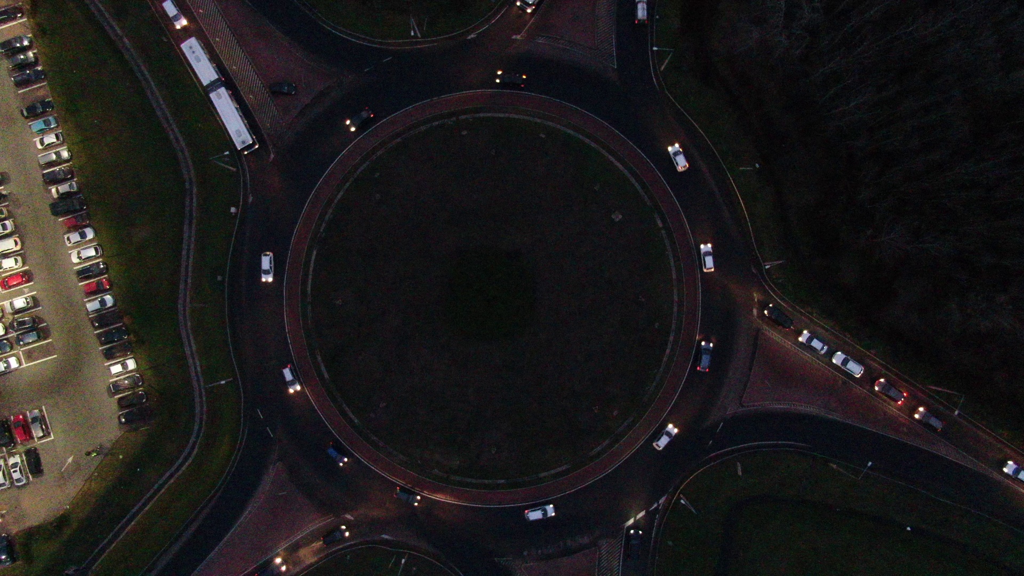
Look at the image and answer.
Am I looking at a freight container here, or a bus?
bus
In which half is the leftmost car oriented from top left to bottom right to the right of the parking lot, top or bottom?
top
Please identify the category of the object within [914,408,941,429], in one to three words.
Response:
car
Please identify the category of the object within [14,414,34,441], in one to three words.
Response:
car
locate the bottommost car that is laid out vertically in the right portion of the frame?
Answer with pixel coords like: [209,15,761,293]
[628,529,642,560]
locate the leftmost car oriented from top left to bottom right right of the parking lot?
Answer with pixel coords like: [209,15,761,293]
[162,0,186,27]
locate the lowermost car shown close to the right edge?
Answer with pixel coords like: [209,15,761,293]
[1002,464,1024,487]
